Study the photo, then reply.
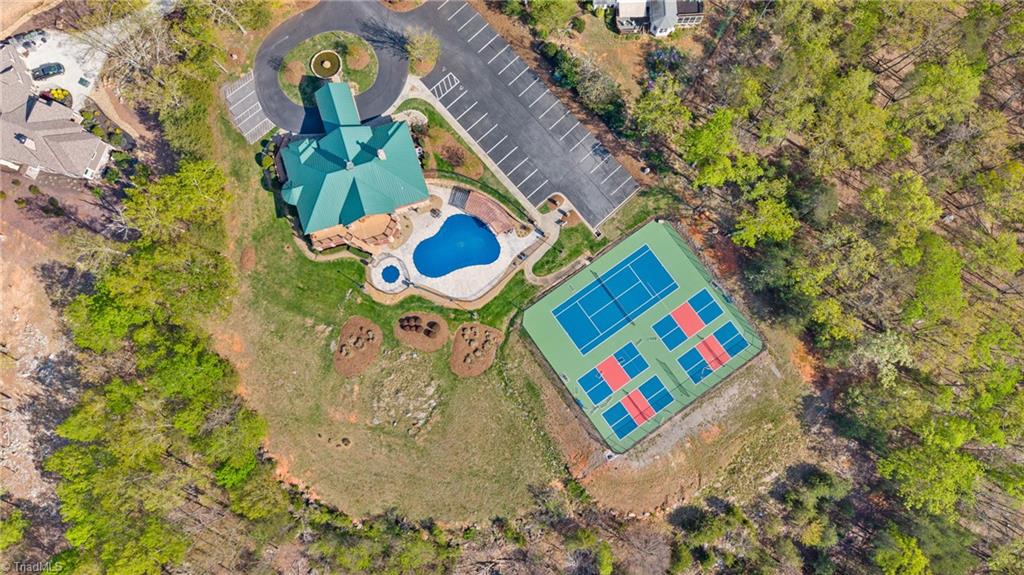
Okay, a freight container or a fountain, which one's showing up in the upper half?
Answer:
fountain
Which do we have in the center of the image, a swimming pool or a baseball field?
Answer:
swimming pool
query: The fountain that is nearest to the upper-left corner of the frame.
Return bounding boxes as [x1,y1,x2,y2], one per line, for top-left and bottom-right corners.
[310,47,343,80]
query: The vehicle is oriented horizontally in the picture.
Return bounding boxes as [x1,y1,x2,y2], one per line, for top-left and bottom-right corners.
[33,64,65,80]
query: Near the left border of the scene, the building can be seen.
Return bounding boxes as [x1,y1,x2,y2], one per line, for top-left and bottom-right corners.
[0,20,118,180]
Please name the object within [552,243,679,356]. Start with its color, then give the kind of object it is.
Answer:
blue tennis court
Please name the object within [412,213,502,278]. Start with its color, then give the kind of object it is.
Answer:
blue swimming pool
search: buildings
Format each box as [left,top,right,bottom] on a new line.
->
[0,20,118,180]
[281,83,429,233]
[592,0,707,39]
